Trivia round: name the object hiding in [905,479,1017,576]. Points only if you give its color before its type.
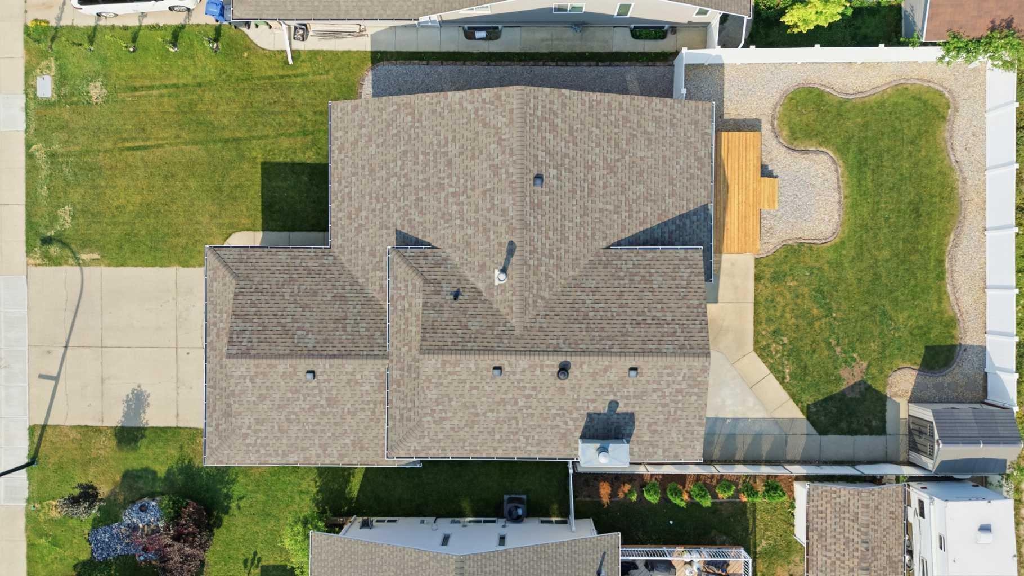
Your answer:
white trailer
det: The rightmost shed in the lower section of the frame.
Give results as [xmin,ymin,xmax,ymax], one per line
[909,404,1023,472]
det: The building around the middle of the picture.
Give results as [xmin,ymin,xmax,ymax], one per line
[205,83,713,467]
